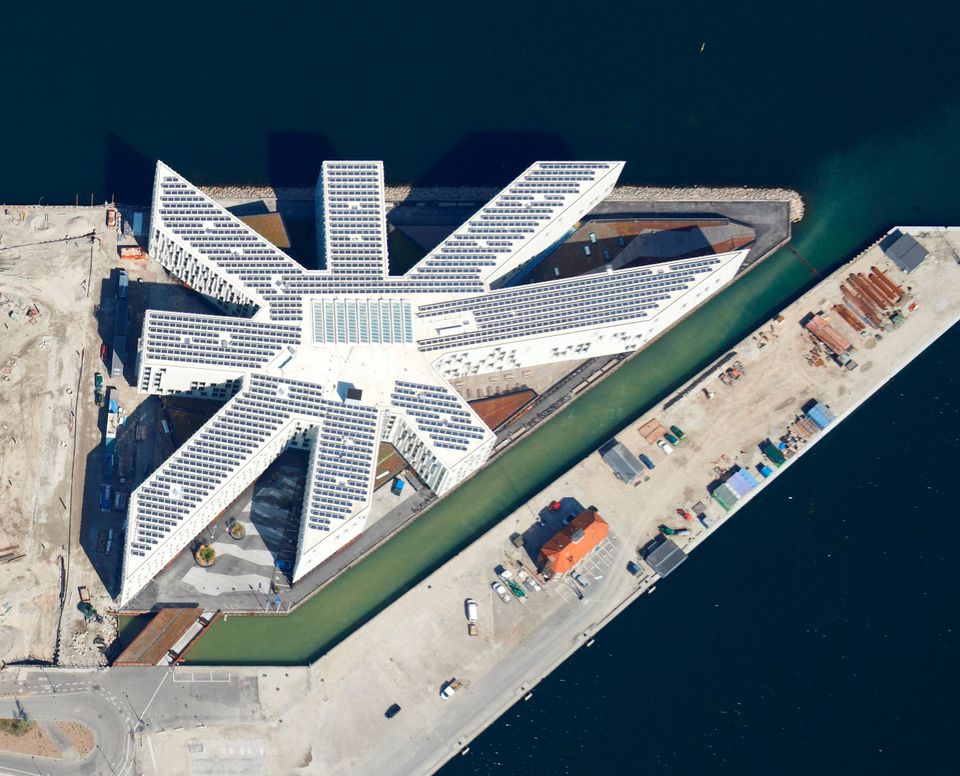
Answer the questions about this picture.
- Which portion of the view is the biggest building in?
center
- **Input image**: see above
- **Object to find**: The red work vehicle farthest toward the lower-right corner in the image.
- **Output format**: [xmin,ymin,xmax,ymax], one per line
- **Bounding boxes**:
[680,508,697,525]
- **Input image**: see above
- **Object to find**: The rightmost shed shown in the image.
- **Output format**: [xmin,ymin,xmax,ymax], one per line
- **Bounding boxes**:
[883,231,928,278]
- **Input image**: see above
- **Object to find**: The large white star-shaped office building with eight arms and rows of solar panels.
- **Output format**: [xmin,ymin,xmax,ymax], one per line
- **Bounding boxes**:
[119,160,755,605]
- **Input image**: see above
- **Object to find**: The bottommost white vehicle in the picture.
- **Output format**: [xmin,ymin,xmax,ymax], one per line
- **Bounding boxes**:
[441,679,461,696]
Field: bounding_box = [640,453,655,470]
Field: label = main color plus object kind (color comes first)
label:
blue car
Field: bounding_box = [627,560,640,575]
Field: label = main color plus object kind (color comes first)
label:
blue vehicle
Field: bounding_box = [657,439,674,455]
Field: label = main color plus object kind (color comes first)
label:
white vehicle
